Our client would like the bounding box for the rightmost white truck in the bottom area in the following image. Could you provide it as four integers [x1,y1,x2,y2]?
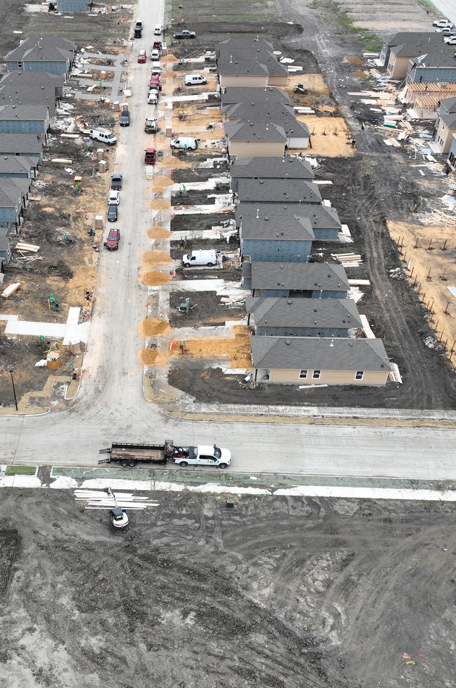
[170,444,231,468]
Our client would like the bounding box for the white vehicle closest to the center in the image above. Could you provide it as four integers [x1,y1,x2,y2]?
[183,248,227,267]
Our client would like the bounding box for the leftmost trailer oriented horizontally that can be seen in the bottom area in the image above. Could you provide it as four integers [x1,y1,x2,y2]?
[98,443,174,467]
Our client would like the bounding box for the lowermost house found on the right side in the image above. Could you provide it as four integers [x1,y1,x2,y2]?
[249,334,392,387]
